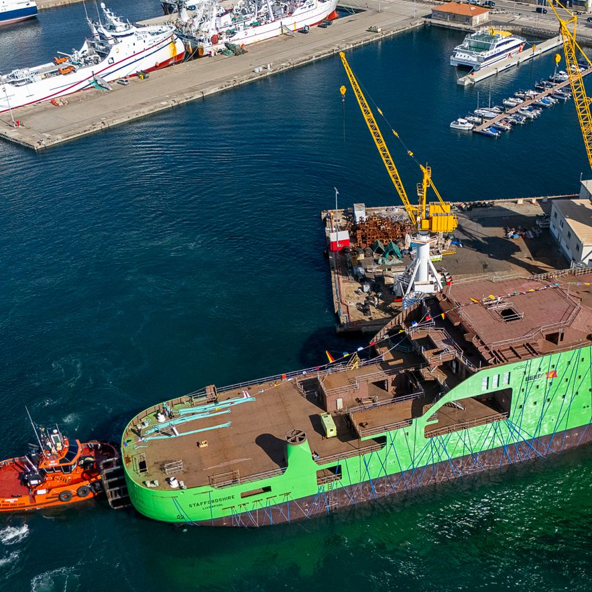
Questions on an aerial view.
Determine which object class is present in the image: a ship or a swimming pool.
ship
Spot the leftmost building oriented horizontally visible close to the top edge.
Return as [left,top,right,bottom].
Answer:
[431,0,496,26]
